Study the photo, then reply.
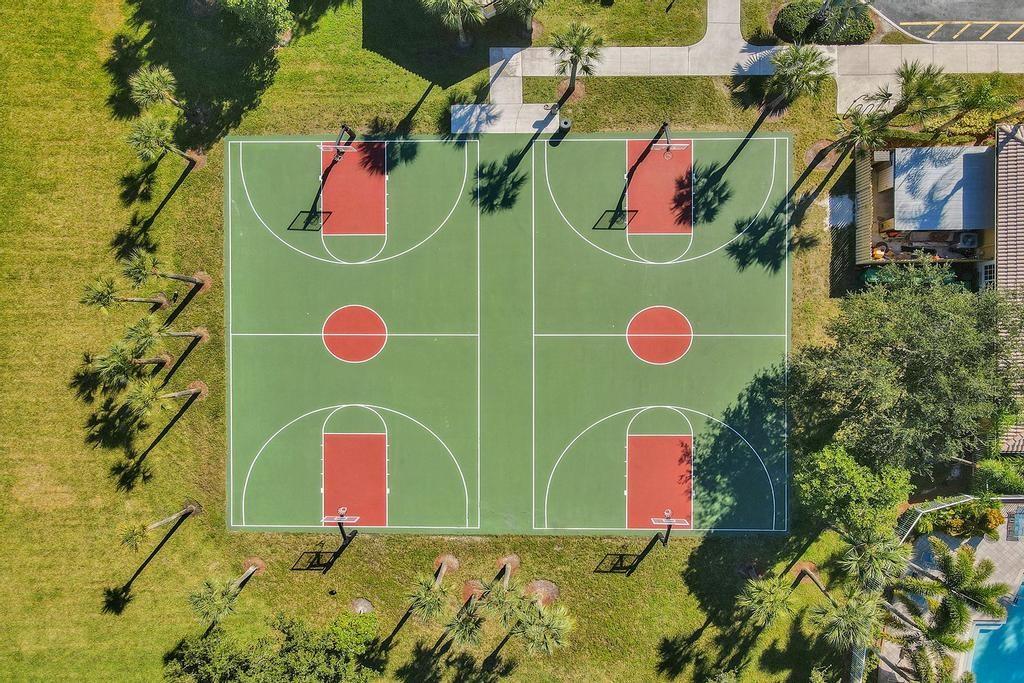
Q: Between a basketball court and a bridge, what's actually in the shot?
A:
basketball court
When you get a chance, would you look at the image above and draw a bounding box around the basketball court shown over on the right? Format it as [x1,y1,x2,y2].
[533,138,789,530]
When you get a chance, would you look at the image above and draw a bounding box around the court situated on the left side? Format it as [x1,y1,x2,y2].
[229,140,479,528]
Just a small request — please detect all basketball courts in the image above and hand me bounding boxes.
[533,138,789,530]
[229,140,479,528]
